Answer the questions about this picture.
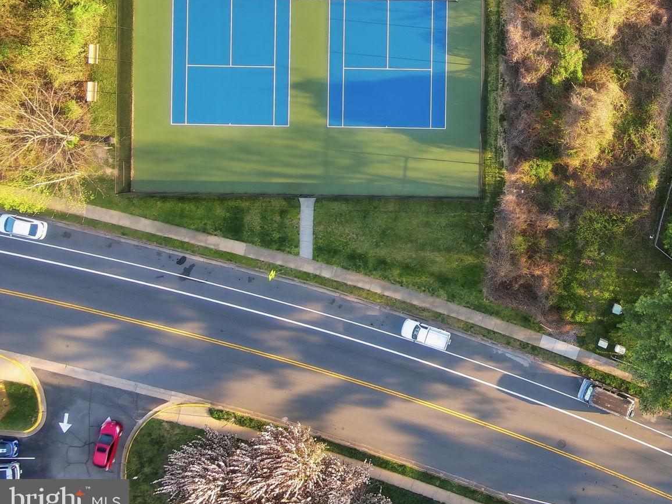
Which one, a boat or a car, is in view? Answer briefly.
car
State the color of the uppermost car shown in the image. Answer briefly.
white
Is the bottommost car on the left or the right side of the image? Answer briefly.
left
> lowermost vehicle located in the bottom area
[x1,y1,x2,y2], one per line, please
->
[0,460,23,483]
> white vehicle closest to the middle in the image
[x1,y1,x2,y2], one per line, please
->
[399,317,455,352]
